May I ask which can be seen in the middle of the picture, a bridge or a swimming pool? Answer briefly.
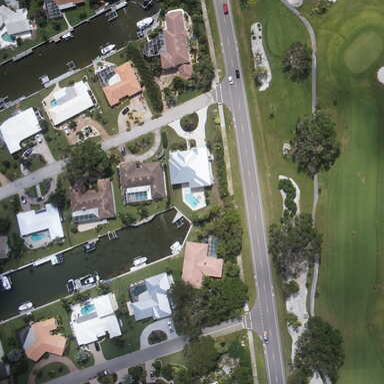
swimming pool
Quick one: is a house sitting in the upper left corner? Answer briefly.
Yes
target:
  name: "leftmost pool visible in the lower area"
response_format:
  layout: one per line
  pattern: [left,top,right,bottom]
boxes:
[23,229,51,250]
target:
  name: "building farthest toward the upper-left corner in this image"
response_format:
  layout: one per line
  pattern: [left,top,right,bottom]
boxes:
[0,4,35,39]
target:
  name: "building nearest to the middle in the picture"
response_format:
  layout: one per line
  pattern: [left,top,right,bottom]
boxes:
[170,147,214,189]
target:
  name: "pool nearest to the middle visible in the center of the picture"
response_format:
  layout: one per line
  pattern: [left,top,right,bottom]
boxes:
[182,187,207,211]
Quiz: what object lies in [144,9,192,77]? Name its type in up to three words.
house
